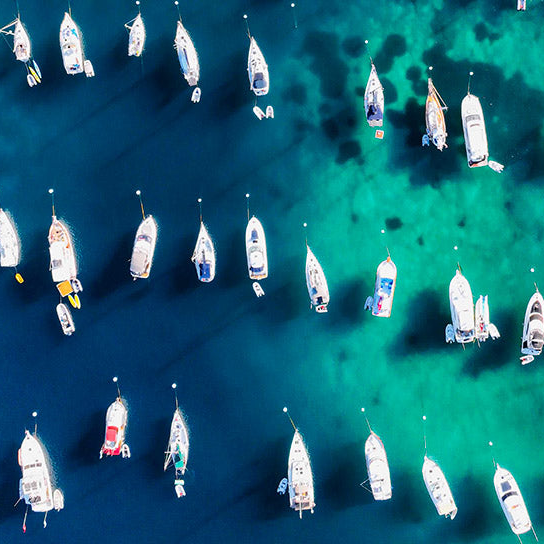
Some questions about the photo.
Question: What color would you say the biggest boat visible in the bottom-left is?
white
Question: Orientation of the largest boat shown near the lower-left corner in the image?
vertically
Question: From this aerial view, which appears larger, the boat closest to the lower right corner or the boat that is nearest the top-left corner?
the boat closest to the lower right corner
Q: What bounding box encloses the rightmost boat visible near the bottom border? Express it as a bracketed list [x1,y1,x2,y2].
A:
[497,467,535,542]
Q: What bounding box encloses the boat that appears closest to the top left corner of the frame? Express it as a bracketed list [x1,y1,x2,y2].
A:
[1,18,31,63]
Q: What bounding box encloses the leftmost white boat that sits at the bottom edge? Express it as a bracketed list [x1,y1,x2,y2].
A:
[17,432,53,531]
